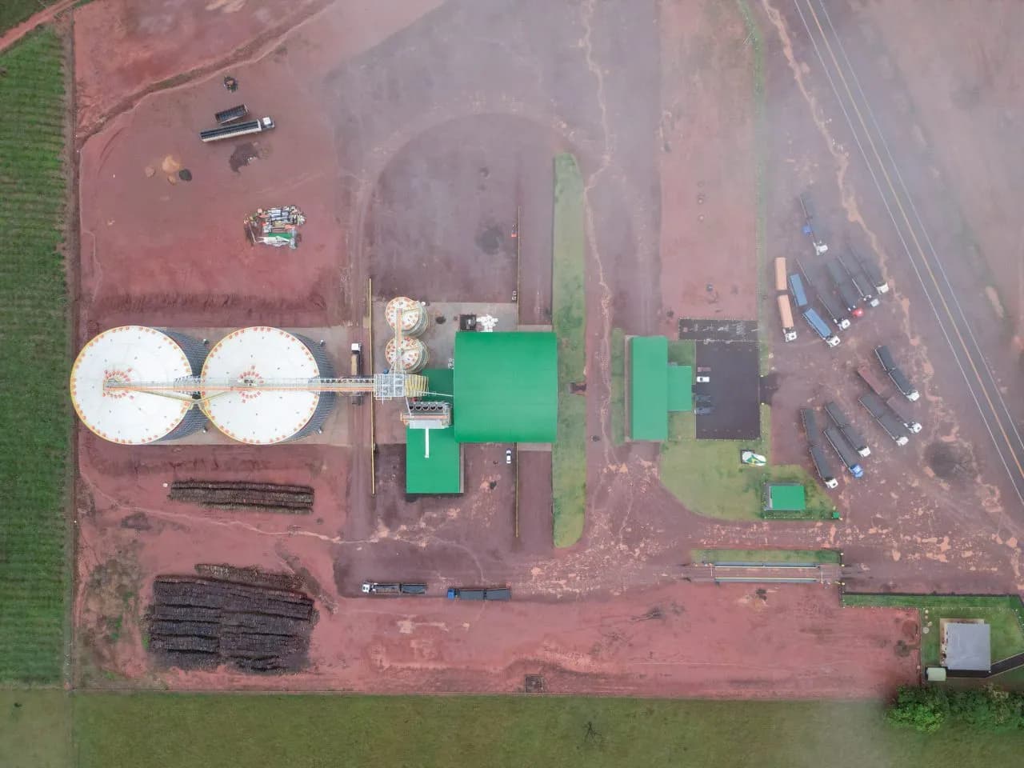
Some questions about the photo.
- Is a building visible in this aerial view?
Yes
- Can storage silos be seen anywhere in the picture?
Yes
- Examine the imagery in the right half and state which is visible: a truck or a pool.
truck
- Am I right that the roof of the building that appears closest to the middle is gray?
No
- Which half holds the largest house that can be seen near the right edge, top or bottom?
bottom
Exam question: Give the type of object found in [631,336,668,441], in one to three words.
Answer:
shed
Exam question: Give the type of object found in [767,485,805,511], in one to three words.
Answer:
building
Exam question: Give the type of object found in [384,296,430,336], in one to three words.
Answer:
silo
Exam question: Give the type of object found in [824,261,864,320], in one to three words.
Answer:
truck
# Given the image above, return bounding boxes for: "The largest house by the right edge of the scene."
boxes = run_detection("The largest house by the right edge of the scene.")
[940,618,990,671]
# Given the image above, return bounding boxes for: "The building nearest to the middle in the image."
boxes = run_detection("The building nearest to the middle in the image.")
[454,332,558,443]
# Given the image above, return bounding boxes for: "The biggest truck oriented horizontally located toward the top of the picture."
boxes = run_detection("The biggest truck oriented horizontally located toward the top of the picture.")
[201,117,277,144]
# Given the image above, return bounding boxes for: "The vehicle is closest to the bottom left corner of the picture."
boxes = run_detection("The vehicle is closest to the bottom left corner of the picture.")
[361,581,427,595]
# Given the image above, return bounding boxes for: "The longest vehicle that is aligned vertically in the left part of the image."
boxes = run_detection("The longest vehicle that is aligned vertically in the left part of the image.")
[350,342,363,376]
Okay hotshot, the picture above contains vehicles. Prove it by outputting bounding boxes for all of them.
[855,366,922,435]
[874,345,919,403]
[350,342,363,376]
[447,586,511,600]
[799,408,838,490]
[824,401,870,458]
[695,376,709,383]
[846,243,888,295]
[823,426,862,477]
[505,448,512,463]
[361,581,427,595]
[201,117,277,144]
[858,393,909,447]
[837,252,880,310]
[795,257,851,331]
[772,257,796,342]
[695,406,711,414]
[695,366,709,372]
[824,261,864,320]
[786,273,839,348]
